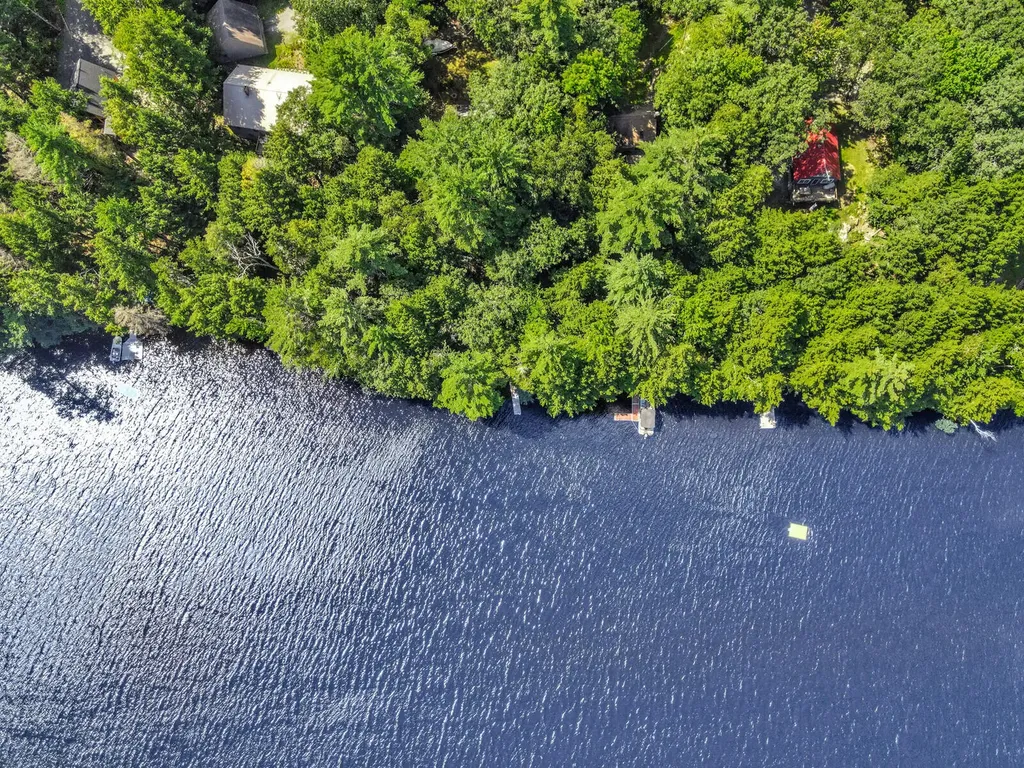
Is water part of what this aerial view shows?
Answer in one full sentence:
Yes, there is water in the image.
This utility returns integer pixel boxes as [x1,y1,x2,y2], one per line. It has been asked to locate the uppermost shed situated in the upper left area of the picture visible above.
[214,0,270,67]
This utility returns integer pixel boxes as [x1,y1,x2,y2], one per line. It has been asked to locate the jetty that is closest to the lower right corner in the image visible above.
[759,397,776,429]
